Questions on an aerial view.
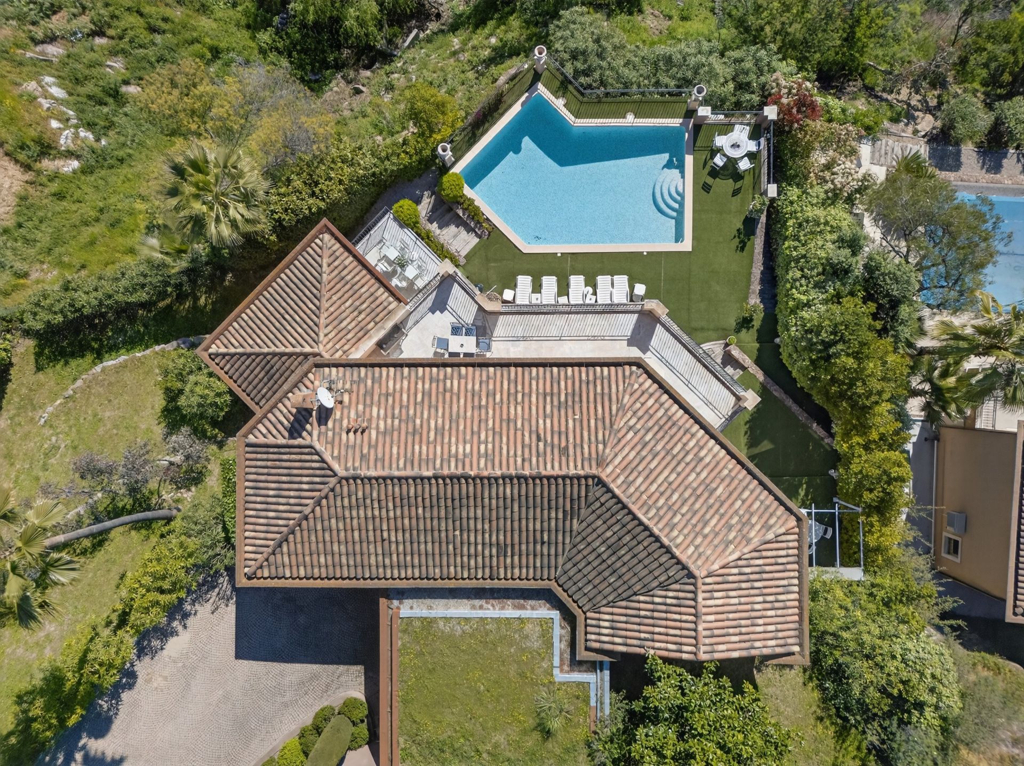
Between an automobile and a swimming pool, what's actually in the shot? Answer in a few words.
swimming pool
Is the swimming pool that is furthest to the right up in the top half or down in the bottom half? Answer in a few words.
top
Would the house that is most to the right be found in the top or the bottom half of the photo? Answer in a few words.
bottom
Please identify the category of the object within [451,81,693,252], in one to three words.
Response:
swimming pool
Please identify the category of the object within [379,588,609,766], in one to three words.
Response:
building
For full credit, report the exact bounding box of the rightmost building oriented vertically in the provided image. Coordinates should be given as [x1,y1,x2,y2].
[937,420,1024,623]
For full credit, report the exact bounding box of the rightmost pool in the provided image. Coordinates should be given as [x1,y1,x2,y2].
[926,188,1024,307]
